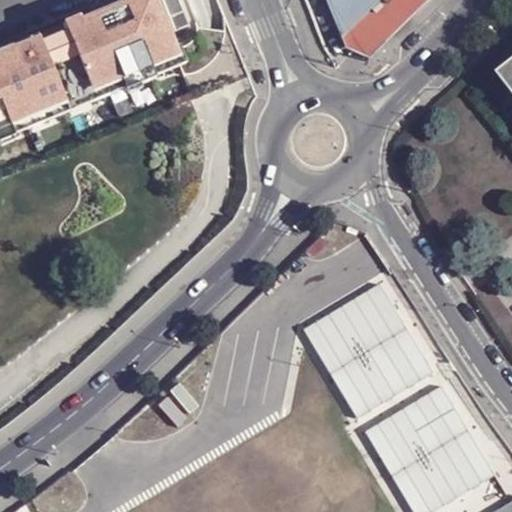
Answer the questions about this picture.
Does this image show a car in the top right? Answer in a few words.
Yes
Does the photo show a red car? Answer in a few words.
Yes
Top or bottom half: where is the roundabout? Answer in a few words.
top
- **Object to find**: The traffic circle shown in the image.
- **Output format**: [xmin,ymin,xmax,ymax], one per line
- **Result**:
[254,52,412,234]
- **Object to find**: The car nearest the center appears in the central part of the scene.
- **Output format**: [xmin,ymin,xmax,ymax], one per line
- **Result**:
[290,260,305,272]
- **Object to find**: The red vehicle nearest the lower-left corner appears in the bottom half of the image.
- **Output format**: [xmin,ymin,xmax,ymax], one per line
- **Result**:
[62,392,84,410]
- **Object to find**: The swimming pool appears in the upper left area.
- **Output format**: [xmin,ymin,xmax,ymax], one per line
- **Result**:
[72,114,88,133]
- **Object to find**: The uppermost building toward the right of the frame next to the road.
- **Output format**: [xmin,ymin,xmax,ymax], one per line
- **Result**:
[326,0,432,58]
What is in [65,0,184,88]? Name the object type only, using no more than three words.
house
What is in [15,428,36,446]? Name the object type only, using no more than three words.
car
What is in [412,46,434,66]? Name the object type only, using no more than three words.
car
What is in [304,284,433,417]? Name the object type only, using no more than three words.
building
